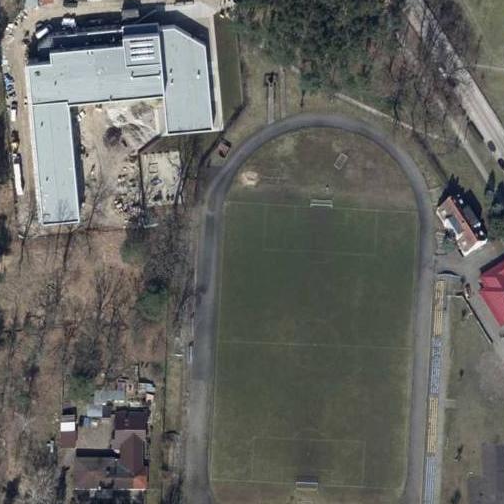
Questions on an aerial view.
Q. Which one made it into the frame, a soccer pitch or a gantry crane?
soccer pitch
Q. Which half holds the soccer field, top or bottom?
bottom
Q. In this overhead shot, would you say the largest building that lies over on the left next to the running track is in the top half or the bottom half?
top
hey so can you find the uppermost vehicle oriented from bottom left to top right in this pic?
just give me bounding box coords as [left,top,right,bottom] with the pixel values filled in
[34,22,54,40]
